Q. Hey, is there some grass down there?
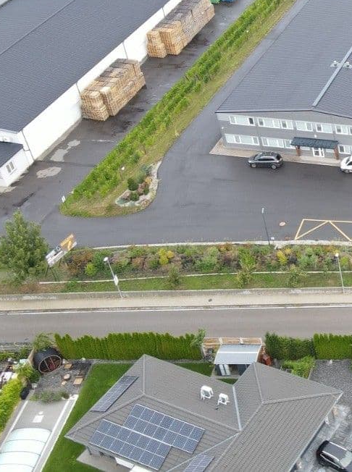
Yes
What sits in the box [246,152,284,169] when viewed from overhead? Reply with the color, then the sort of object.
gray car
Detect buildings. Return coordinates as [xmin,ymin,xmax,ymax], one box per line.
[0,0,174,165]
[214,0,352,169]
[63,353,343,472]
